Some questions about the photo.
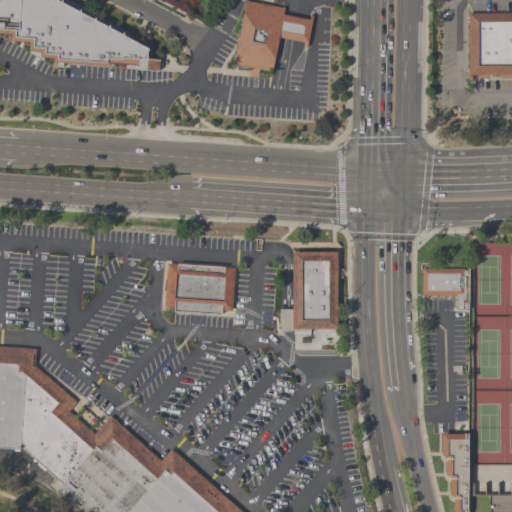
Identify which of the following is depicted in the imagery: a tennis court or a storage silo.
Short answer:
tennis court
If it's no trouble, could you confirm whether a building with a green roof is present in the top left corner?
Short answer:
No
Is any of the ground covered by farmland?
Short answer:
No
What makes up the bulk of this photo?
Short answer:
paved ground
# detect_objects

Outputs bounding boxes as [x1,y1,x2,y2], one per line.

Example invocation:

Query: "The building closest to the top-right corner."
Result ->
[470,12,512,80]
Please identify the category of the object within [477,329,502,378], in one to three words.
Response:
tennis court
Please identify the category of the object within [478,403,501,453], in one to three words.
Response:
tennis court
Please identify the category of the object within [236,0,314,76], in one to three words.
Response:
building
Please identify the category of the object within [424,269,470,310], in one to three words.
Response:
building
